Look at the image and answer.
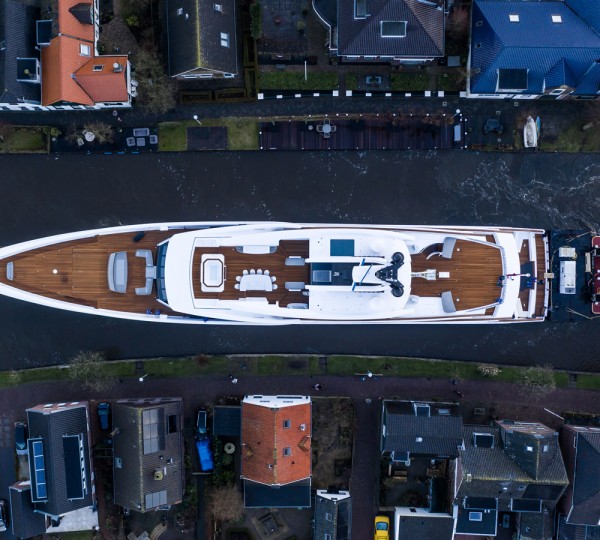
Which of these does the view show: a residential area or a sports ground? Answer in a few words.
residential area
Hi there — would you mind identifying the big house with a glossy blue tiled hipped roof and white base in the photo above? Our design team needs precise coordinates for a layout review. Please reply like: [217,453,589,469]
[464,0,600,102]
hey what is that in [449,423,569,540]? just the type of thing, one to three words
house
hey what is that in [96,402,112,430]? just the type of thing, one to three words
car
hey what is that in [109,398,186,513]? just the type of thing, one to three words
house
